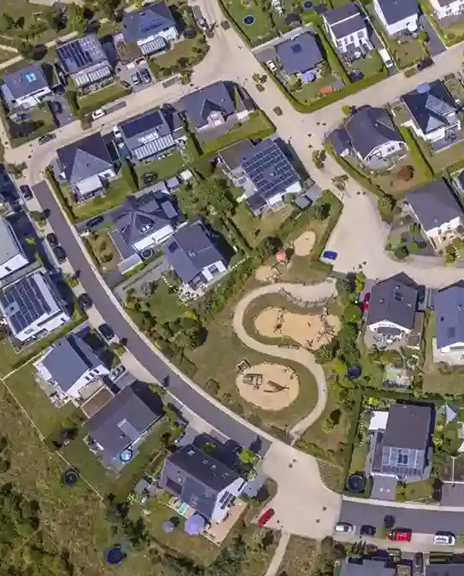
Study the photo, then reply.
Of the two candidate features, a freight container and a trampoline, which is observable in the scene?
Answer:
trampoline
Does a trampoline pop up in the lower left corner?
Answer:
Yes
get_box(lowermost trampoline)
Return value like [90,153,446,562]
[104,545,125,564]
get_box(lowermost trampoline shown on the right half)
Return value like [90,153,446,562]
[346,473,365,493]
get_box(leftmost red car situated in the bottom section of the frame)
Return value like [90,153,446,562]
[256,508,276,526]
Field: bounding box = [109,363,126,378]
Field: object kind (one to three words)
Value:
car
